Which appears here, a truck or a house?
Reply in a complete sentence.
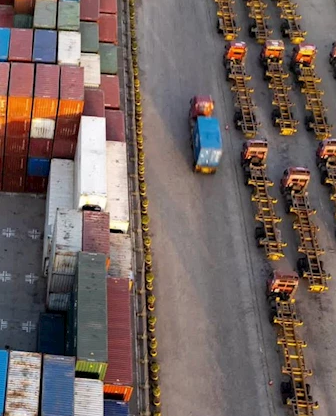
It is a truck that can be seen here.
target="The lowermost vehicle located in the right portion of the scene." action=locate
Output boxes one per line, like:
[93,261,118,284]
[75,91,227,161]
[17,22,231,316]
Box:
[263,268,319,416]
